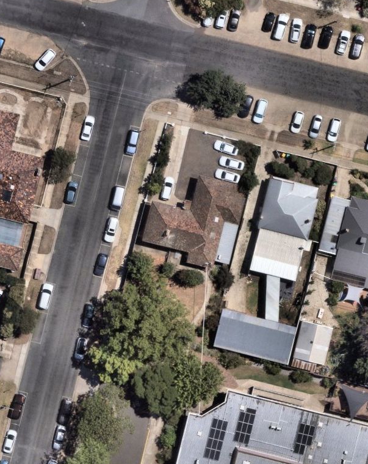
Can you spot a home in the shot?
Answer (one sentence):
Yes, you can see a home in this photo.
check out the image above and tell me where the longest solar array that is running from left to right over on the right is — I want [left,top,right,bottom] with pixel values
[331,270,366,286]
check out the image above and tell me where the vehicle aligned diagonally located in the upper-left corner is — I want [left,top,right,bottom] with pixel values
[35,48,55,72]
